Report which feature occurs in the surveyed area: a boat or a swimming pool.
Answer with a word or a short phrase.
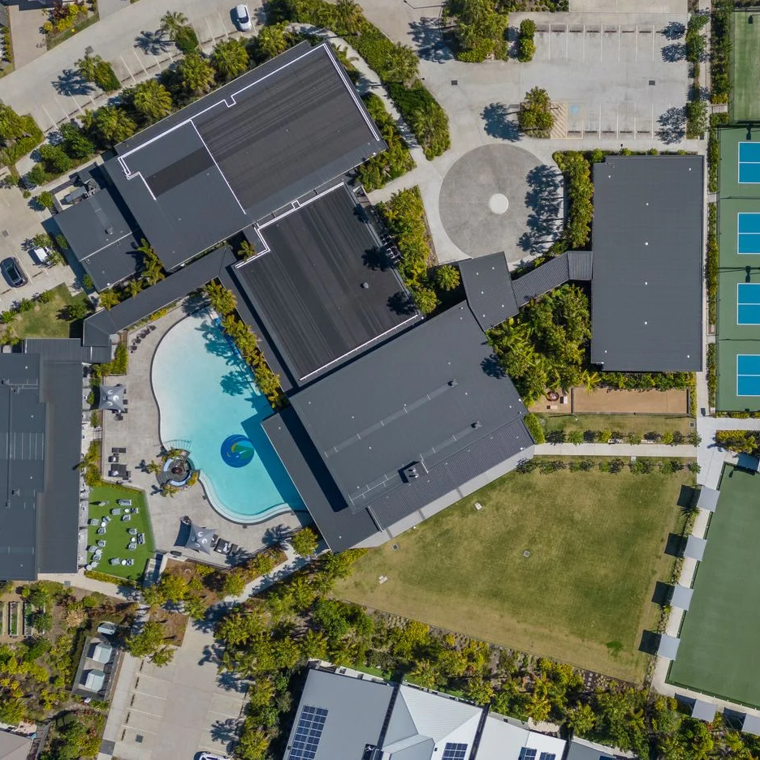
swimming pool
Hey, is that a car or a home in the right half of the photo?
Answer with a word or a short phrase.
home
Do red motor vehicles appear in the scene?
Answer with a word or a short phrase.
No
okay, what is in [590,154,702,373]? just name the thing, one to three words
building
